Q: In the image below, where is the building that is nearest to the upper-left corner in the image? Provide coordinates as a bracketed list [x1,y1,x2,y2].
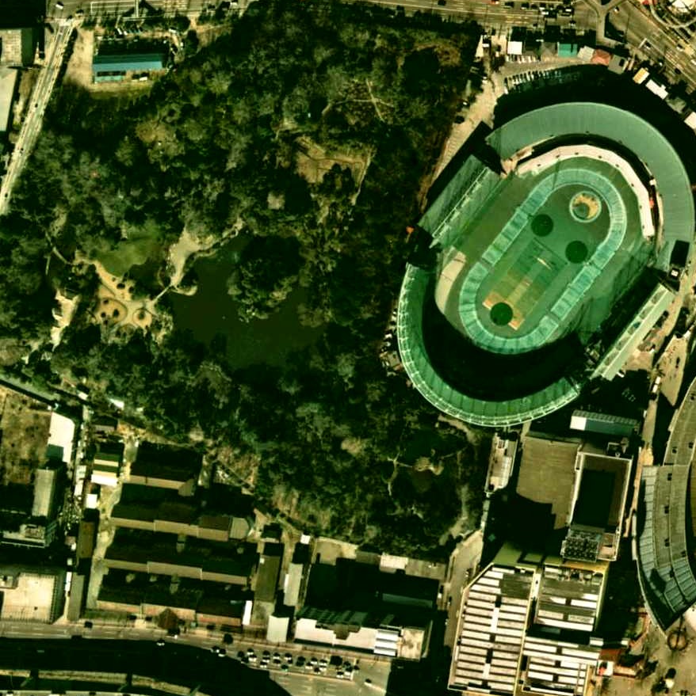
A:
[0,27,40,66]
